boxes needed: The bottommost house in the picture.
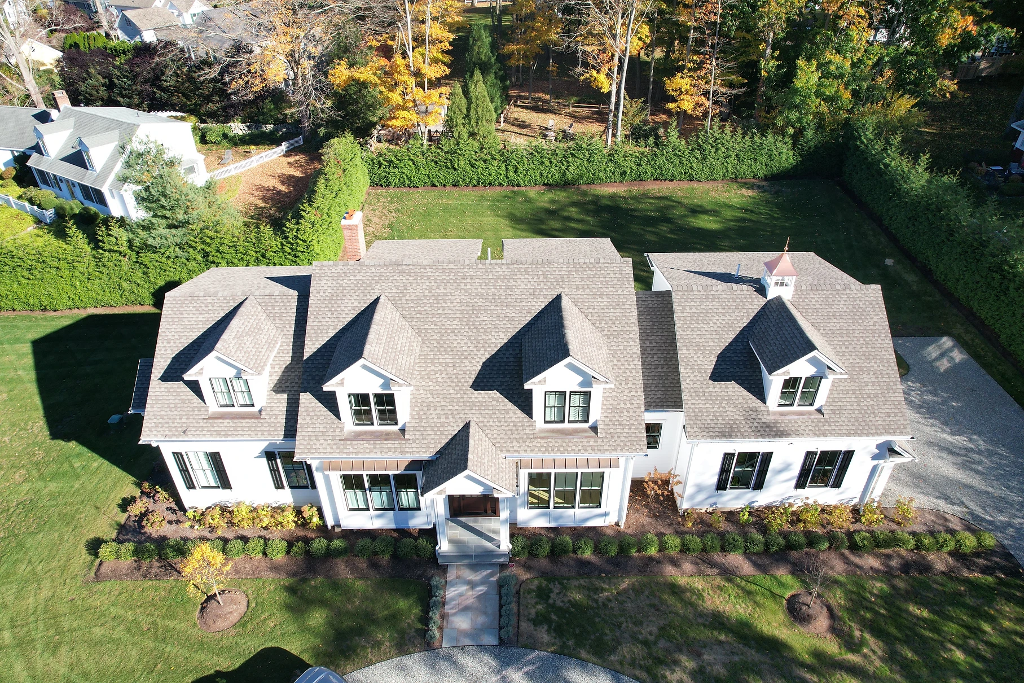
[125,212,925,564]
